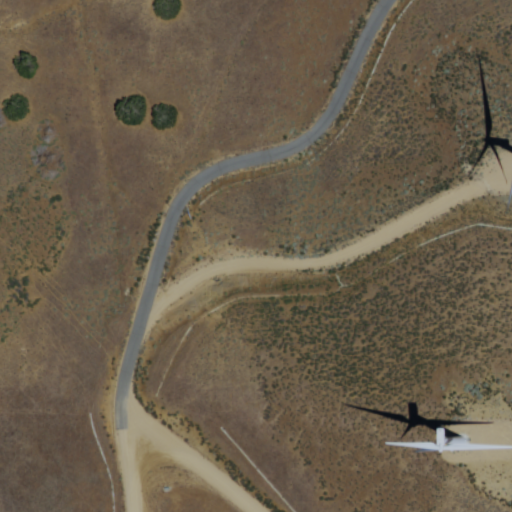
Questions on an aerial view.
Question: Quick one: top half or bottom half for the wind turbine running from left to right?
bottom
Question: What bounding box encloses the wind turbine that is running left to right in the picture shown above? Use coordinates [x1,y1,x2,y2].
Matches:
[384,427,512,453]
